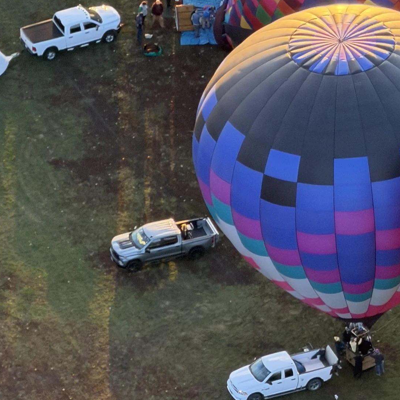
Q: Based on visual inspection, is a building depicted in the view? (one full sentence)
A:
No, there appears to be no building in this shot.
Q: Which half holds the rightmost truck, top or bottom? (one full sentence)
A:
The rightmost truck is in the bottom half of the image.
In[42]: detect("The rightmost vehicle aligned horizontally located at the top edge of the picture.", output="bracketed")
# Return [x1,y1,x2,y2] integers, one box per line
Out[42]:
[18,10,122,61]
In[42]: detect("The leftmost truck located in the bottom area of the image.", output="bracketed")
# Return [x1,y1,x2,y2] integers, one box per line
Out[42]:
[110,217,217,273]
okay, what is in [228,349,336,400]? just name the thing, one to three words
truck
